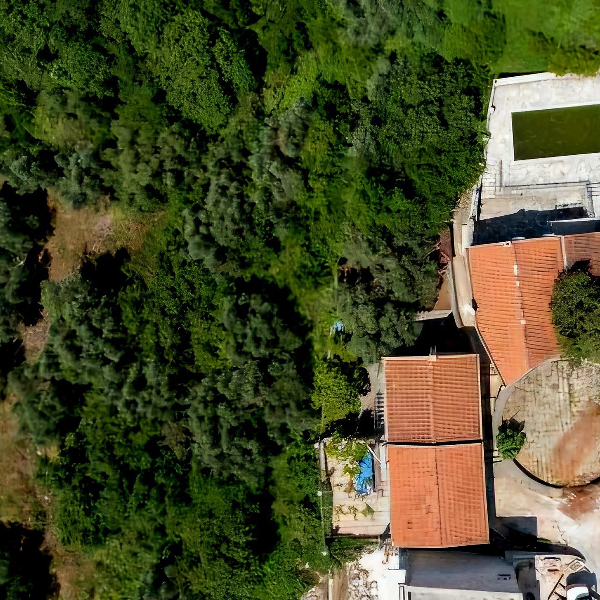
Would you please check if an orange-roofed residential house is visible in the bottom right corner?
Yes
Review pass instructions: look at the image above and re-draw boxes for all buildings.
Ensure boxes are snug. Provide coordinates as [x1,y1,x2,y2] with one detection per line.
[399,584,523,600]
[469,235,566,385]
[387,443,490,548]
[381,353,483,442]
